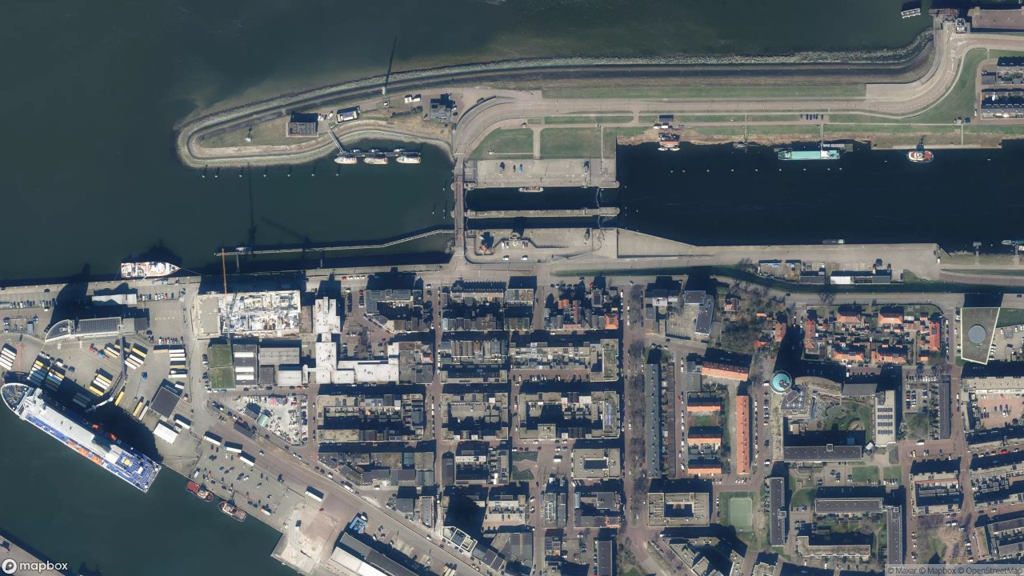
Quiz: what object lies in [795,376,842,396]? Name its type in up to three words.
house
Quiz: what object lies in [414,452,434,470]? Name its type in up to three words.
building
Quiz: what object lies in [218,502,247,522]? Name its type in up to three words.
boat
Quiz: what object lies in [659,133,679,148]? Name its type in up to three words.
boat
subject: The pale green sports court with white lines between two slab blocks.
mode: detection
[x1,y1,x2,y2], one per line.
[730,498,752,532]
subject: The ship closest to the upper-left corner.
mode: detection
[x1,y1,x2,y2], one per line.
[121,262,180,284]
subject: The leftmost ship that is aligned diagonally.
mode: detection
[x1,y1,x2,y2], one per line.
[0,383,161,492]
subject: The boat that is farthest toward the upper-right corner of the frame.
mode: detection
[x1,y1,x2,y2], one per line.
[908,150,934,162]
